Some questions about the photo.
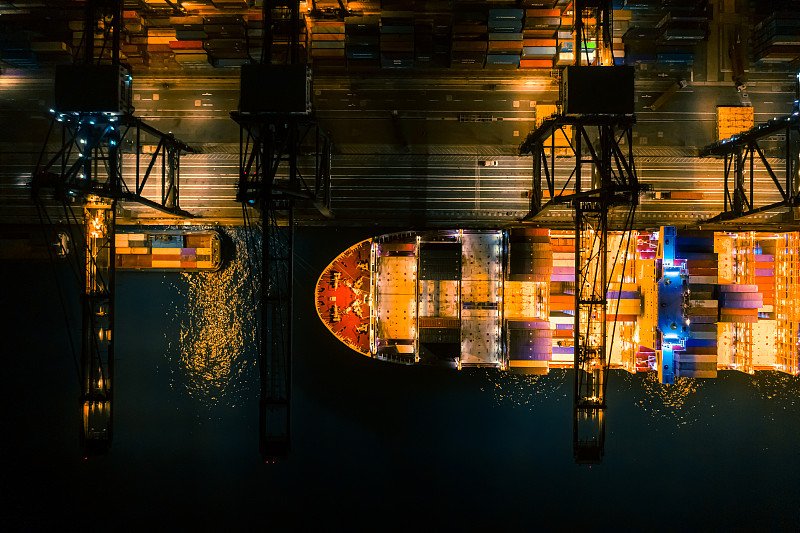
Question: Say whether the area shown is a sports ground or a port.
port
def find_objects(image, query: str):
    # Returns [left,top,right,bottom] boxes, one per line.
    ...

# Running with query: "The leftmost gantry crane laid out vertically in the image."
[24,0,200,461]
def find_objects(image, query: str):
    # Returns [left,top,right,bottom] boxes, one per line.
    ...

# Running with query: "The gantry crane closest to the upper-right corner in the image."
[702,76,800,220]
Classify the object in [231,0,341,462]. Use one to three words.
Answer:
container crane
